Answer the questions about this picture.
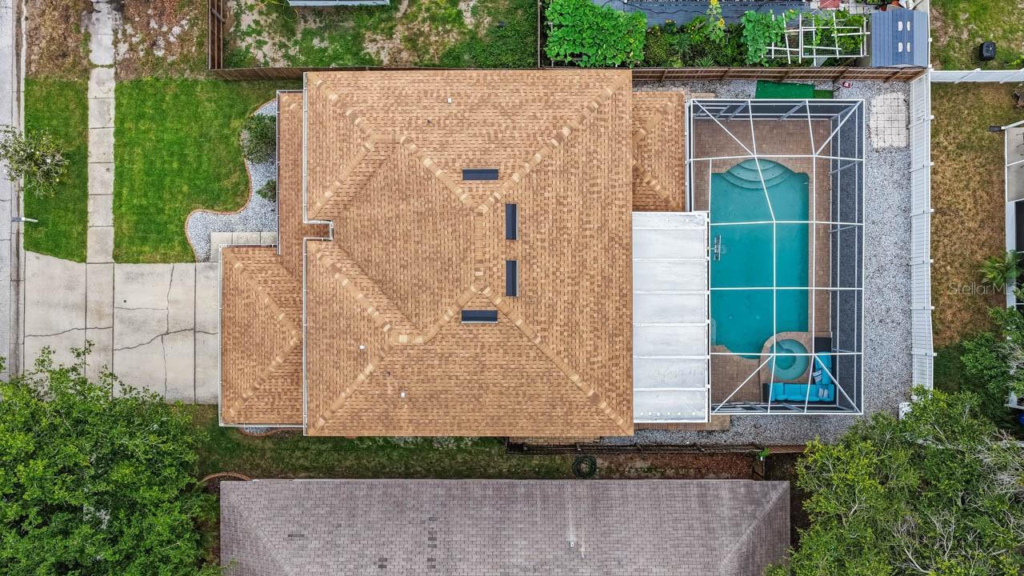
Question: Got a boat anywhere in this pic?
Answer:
No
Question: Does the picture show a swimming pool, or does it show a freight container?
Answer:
swimming pool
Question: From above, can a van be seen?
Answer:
No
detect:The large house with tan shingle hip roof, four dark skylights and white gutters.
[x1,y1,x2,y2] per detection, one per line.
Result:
[217,69,692,436]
